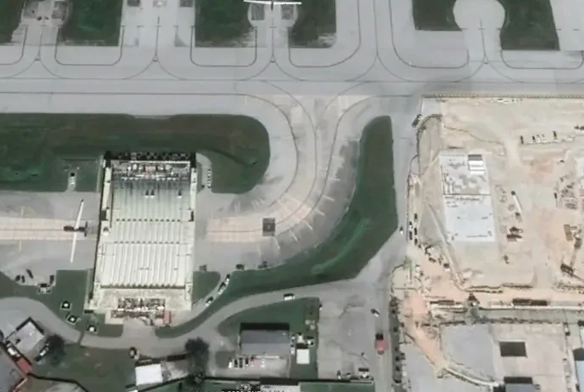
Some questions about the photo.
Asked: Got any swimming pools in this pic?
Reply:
No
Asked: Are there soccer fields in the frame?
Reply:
No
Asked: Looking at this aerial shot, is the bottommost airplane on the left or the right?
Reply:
left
